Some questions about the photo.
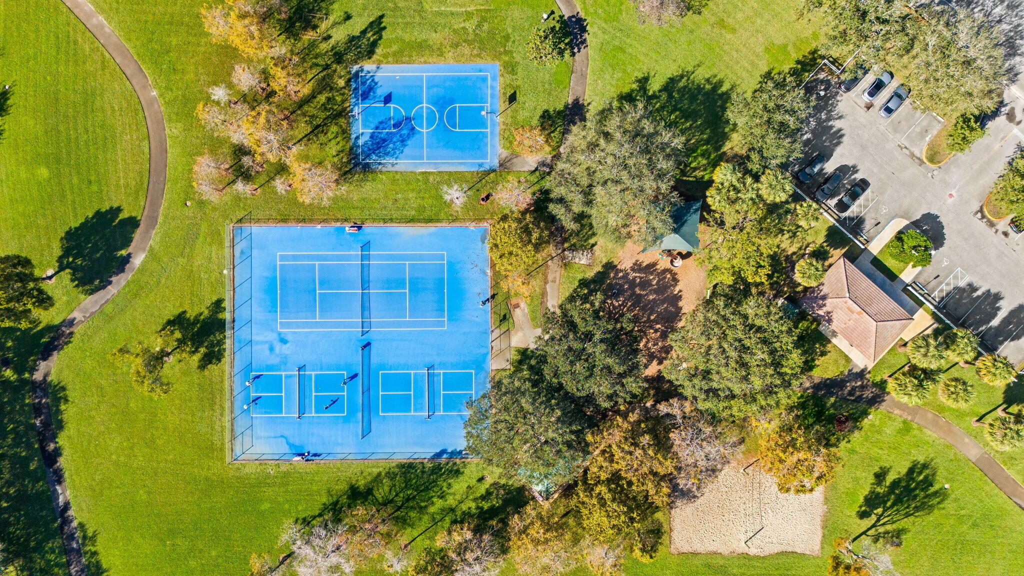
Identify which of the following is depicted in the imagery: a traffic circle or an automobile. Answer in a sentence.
Of the two, only an automobile appears.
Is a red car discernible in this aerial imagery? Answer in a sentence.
No, the frame has no red car in it.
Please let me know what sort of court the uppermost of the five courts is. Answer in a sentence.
I'd identify the uppermost of the five courts as a basketball court.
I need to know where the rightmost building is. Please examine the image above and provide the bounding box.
[802,255,914,364]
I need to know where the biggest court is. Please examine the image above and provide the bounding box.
[230,223,492,463]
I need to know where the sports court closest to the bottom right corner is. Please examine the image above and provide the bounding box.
[666,459,828,559]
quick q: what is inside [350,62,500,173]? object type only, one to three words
basketball court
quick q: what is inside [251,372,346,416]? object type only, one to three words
sports court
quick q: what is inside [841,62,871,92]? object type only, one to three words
car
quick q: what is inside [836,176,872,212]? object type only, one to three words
car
